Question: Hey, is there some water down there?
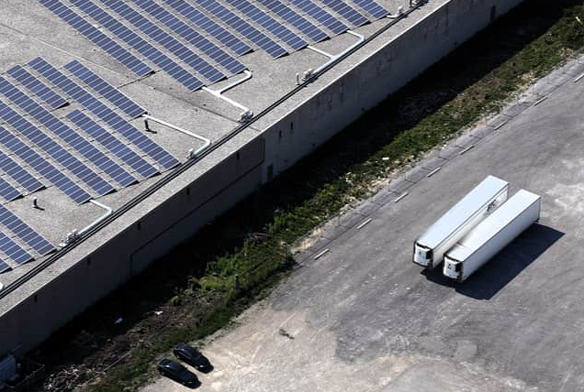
No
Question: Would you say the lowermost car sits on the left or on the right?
left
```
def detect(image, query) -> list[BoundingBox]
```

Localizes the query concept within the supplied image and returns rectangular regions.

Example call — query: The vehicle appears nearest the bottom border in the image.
[153,359,196,385]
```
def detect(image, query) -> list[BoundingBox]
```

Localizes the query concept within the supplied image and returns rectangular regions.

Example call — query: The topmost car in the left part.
[169,342,212,369]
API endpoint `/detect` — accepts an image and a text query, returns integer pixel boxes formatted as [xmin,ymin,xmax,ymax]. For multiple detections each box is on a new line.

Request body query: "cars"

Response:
[169,342,212,369]
[153,359,196,385]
